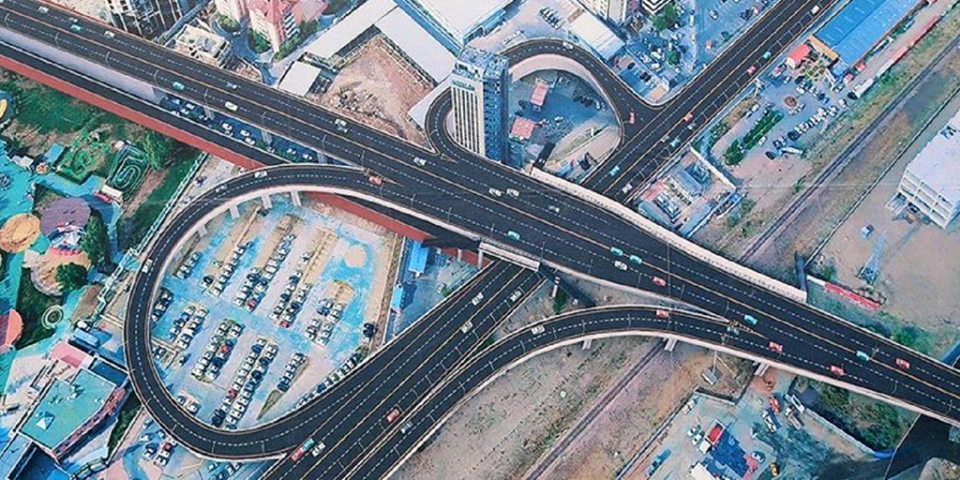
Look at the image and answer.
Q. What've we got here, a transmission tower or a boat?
transmission tower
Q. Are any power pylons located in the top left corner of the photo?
No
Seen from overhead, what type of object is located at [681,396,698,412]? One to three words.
vehicle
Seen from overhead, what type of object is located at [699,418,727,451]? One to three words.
truck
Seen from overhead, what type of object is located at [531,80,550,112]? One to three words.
shed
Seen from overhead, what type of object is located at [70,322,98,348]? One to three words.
building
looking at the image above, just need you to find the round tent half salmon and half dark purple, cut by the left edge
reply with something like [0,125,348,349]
[0,309,24,351]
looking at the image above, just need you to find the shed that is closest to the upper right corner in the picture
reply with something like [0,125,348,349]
[908,10,945,46]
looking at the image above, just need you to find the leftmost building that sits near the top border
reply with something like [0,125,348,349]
[103,0,169,38]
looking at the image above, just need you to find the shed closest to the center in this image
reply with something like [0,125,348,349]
[409,240,429,279]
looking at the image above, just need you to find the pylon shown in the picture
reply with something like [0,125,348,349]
[856,229,897,287]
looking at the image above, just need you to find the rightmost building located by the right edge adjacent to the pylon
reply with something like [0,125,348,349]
[897,111,960,235]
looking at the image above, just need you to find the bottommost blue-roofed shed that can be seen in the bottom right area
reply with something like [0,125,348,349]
[706,431,748,480]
